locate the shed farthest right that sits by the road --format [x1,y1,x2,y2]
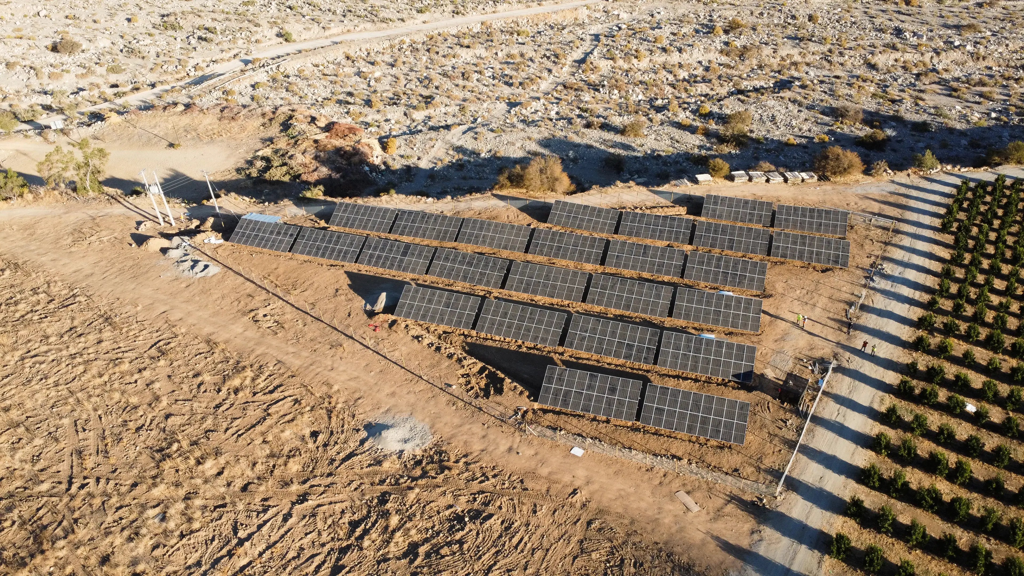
[774,376,812,415]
